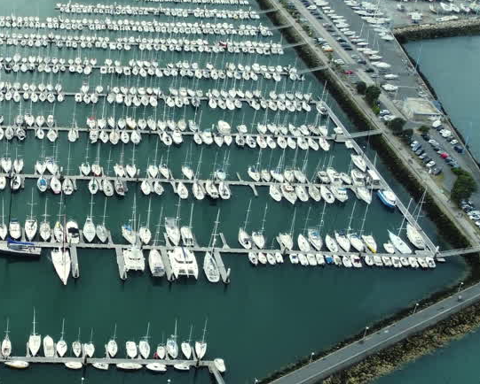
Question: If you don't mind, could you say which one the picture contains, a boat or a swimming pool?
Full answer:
Visible in the photo is a boat.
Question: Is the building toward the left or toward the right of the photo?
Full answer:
It is on the right.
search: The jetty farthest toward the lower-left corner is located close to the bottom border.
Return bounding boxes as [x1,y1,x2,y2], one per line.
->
[0,342,213,367]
